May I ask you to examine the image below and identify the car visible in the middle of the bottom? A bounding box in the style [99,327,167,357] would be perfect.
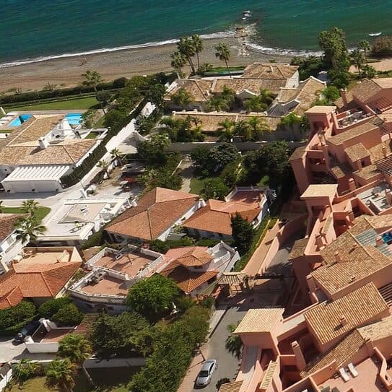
[191,361,218,388]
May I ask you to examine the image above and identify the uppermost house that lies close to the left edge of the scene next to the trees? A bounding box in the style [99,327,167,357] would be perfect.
[0,115,113,203]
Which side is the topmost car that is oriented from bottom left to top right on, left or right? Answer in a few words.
left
